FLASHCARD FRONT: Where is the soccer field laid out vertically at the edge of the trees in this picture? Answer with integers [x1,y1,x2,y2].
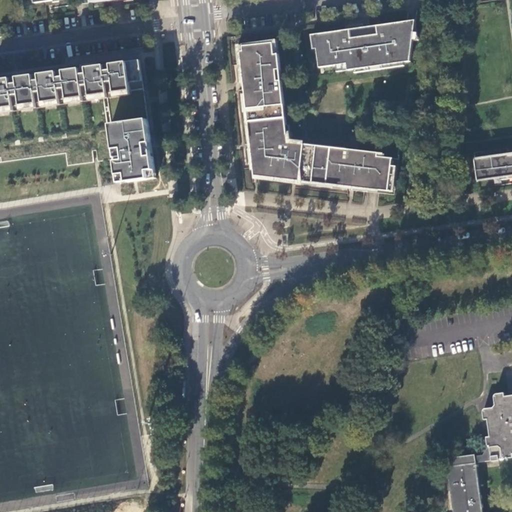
[0,194,150,512]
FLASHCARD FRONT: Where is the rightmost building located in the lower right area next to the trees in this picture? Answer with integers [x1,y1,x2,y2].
[475,392,512,463]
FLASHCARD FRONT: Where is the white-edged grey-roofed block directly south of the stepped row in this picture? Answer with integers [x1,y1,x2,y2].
[106,118,157,188]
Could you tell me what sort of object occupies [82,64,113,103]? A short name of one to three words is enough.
house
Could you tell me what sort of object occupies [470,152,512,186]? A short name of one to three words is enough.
building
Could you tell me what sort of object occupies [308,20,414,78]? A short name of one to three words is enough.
building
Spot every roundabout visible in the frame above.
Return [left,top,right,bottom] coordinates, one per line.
[176,229,252,304]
